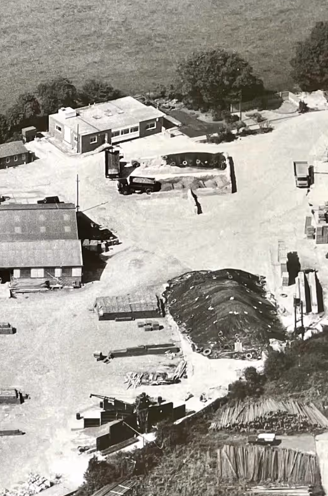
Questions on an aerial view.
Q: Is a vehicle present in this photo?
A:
Yes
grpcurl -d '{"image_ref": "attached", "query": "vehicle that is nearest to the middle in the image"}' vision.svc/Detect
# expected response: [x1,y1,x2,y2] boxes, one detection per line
[120,173,164,193]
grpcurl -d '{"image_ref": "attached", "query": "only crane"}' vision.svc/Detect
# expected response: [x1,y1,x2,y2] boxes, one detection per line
[93,389,154,422]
